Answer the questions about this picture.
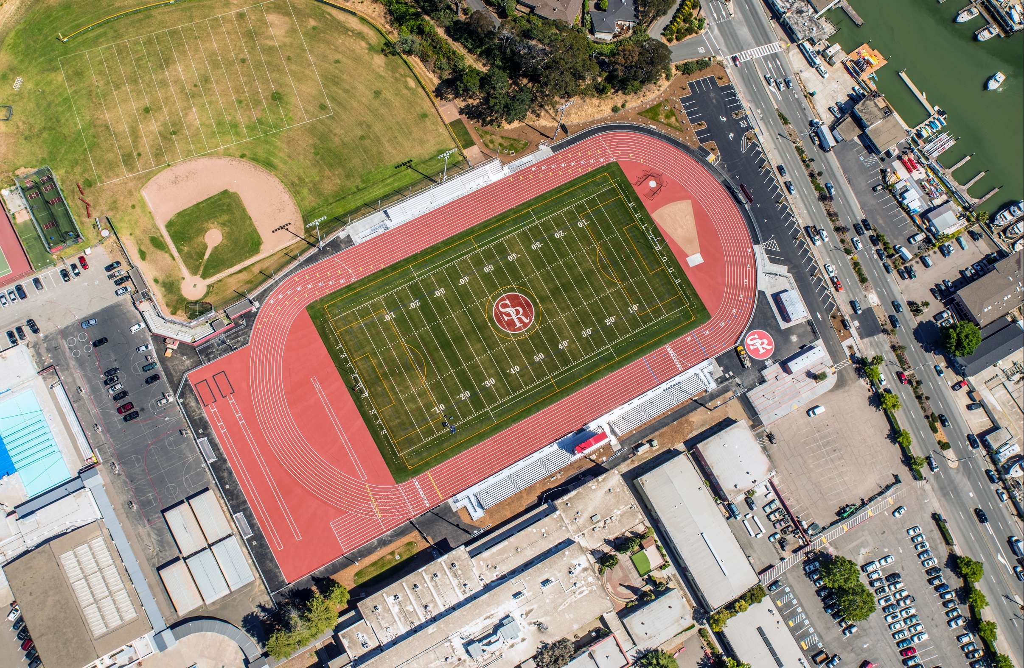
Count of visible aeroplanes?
0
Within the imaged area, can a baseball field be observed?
Yes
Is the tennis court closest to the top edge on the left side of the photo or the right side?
left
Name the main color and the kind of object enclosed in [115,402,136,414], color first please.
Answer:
red vehicle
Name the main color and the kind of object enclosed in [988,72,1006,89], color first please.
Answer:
white boat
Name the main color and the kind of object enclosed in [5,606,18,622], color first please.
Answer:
white vehicle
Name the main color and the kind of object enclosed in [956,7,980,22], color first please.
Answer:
white boat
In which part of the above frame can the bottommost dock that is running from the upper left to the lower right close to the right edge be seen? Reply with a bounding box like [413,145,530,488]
[929,156,980,206]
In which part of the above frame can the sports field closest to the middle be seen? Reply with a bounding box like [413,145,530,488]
[305,160,713,487]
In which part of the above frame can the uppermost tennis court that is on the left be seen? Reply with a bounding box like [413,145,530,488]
[0,203,34,288]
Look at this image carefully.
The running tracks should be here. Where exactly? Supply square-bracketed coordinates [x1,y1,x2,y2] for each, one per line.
[187,136,754,586]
